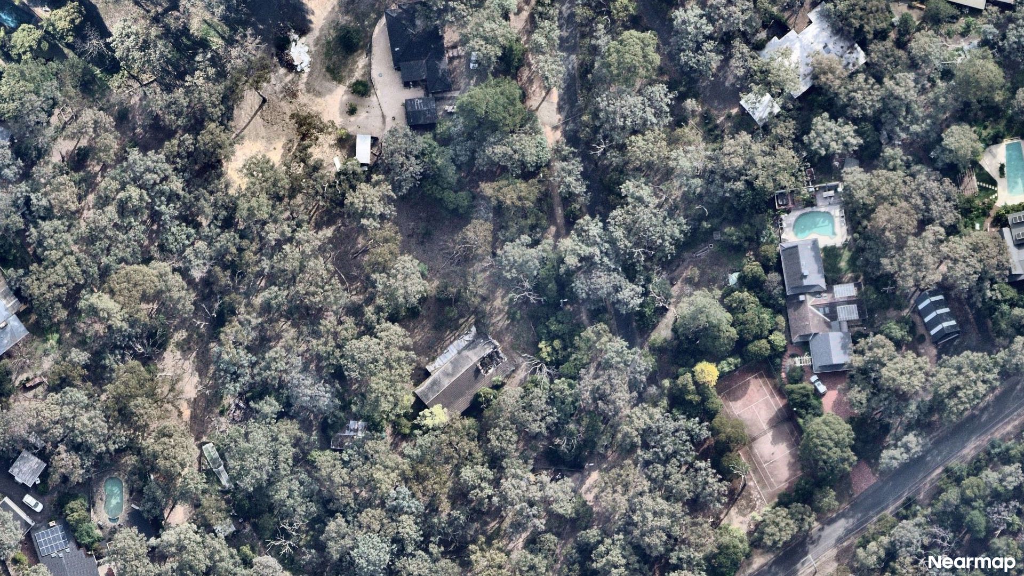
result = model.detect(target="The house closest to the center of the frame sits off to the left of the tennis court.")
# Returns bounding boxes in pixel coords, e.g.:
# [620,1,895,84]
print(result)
[416,326,516,415]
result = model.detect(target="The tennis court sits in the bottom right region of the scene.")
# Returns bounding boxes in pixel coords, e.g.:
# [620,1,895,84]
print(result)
[705,359,829,508]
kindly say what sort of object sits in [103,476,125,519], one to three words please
swimming pool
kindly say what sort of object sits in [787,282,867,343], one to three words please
house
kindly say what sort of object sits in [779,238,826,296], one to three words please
building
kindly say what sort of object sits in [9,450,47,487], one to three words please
shed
